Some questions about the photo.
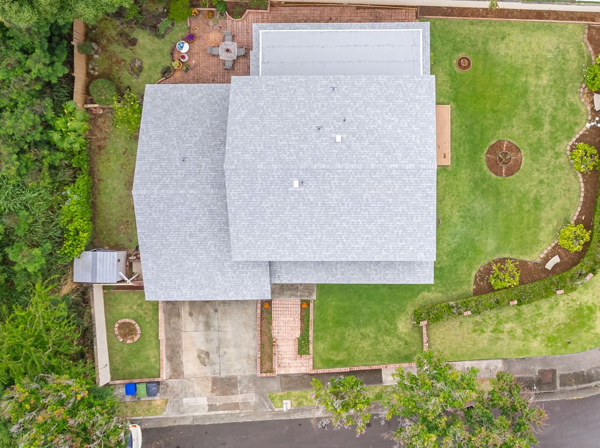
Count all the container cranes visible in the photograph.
0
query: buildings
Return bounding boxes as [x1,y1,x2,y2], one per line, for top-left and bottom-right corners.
[132,22,437,301]
[74,251,131,283]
